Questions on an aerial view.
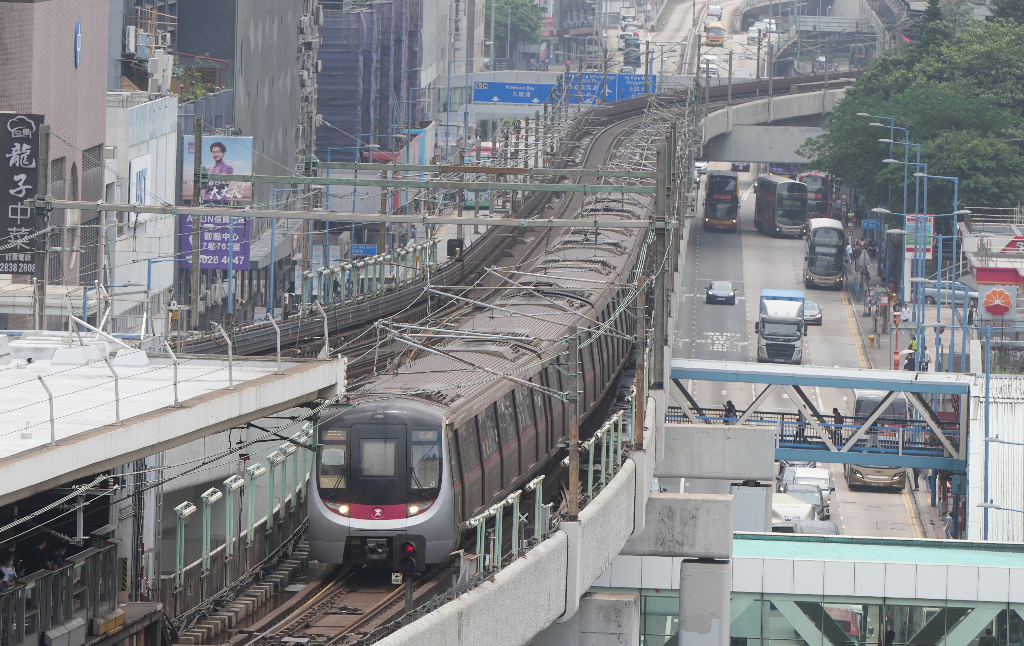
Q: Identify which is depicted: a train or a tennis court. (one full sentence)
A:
There is a train in the scene.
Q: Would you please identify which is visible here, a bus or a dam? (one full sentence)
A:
The image shows a bus.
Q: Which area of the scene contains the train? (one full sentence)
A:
You can find the train in the center area of the picture.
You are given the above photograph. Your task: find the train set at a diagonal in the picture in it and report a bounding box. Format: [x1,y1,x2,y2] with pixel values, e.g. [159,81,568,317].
[307,193,650,569]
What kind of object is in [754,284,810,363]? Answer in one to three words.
truck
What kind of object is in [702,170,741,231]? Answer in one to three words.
bus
